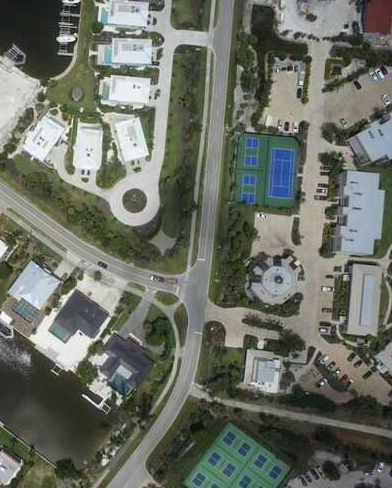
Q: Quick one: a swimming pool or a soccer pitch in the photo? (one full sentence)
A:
Of the two, only a swimming pool appears.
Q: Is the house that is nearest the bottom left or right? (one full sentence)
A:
The house that is nearest the bottom appears in the left half of the scene.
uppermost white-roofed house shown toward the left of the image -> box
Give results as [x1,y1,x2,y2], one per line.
[105,0,147,31]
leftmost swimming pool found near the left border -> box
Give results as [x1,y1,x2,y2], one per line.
[15,300,35,321]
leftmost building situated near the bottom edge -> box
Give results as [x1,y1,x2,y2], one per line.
[0,449,23,483]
